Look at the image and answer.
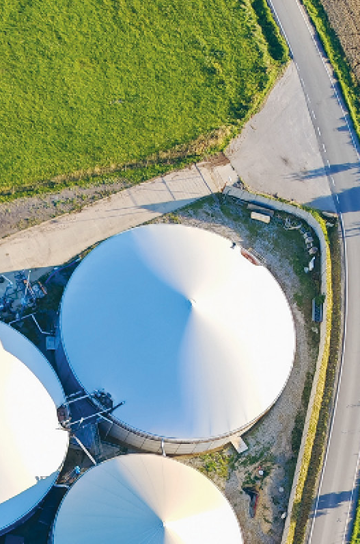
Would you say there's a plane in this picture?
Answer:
No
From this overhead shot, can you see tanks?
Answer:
Yes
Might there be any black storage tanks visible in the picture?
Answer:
No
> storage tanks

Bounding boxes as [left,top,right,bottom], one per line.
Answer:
[43,222,297,456]
[43,452,244,544]
[0,320,72,541]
